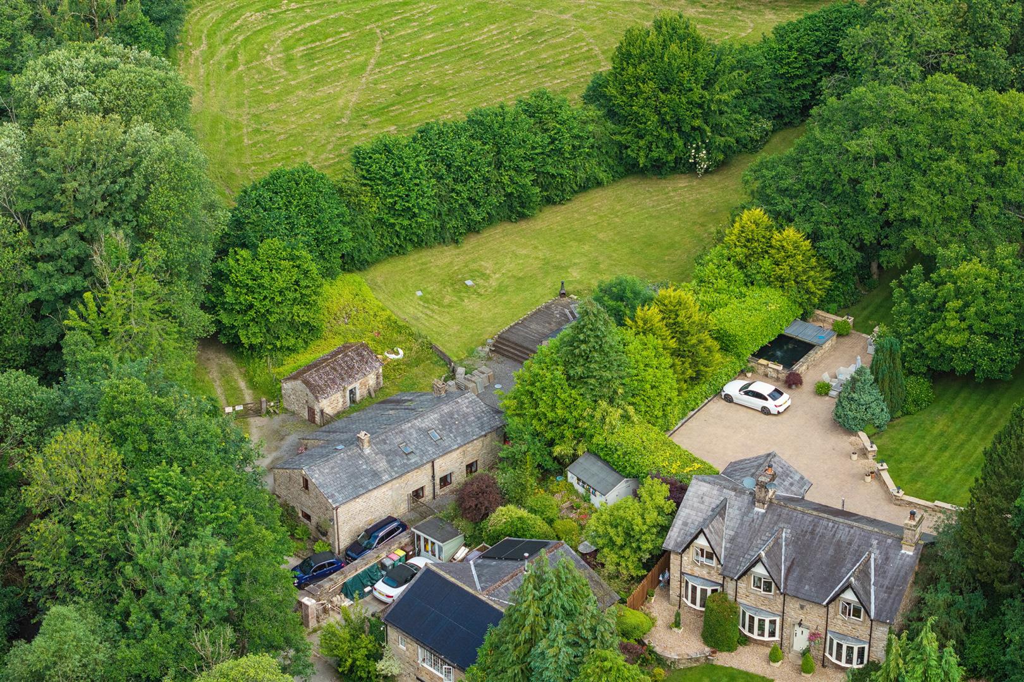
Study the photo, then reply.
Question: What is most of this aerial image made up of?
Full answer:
The bulk of the photo consists of trees.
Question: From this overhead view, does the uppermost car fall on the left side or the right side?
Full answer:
The uppermost car sits on the right side.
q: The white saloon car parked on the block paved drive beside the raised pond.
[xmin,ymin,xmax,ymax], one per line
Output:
[721,384,793,421]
